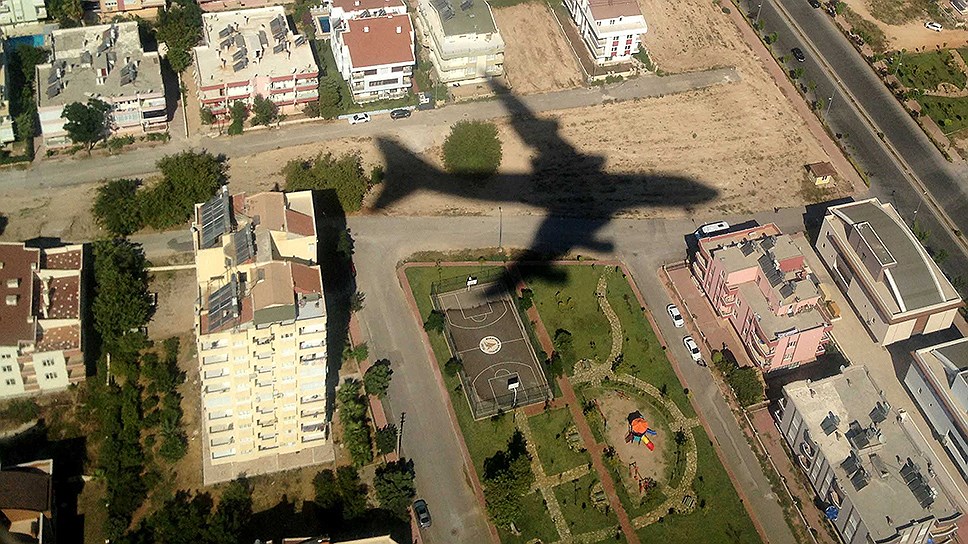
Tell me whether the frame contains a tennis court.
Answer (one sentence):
No, there isn't any tennis court down there.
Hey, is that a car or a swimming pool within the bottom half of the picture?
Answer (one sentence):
What appears within the bottom half of the picture is a car.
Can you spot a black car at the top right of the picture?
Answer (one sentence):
Yes, the scene does show a black car at the top right of the picture.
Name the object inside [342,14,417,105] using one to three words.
house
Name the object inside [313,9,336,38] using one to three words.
swimming pool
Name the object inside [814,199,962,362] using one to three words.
building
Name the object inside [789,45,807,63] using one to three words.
car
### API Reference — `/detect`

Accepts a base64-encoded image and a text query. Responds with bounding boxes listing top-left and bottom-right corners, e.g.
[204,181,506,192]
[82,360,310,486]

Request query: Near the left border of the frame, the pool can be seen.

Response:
[4,25,61,57]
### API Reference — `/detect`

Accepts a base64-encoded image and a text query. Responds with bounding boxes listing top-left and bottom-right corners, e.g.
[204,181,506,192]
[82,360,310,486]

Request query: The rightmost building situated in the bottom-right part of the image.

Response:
[899,336,968,506]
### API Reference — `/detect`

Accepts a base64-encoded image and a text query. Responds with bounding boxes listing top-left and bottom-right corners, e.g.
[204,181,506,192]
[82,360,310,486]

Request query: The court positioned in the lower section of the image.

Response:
[431,264,559,417]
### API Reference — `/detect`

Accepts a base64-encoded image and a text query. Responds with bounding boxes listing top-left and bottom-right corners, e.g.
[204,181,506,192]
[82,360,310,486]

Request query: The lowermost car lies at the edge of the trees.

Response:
[415,500,432,526]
